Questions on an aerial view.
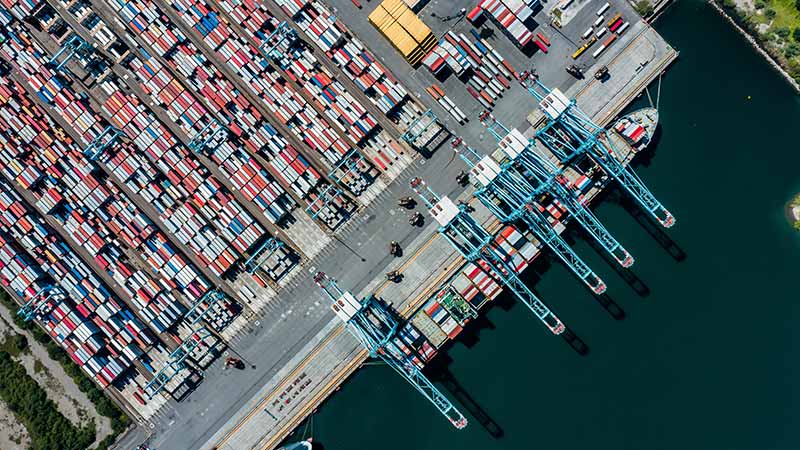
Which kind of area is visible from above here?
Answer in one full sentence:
What you see here is a port.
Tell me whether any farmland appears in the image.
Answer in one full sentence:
No, there is no farmland in the image.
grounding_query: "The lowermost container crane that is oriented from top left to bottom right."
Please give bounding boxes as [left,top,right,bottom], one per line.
[316,273,470,428]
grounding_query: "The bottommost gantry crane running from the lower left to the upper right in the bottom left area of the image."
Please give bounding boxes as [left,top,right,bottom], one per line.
[141,359,185,401]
